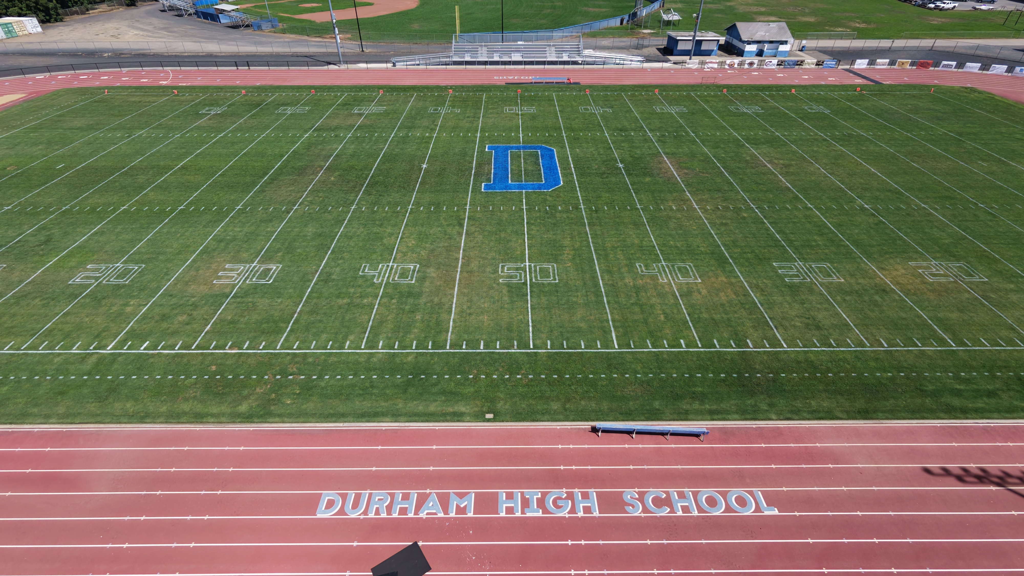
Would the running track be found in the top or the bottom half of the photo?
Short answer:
bottom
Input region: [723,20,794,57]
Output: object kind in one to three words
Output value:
building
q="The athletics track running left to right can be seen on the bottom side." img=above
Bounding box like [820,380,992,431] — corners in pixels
[0,424,1024,576]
